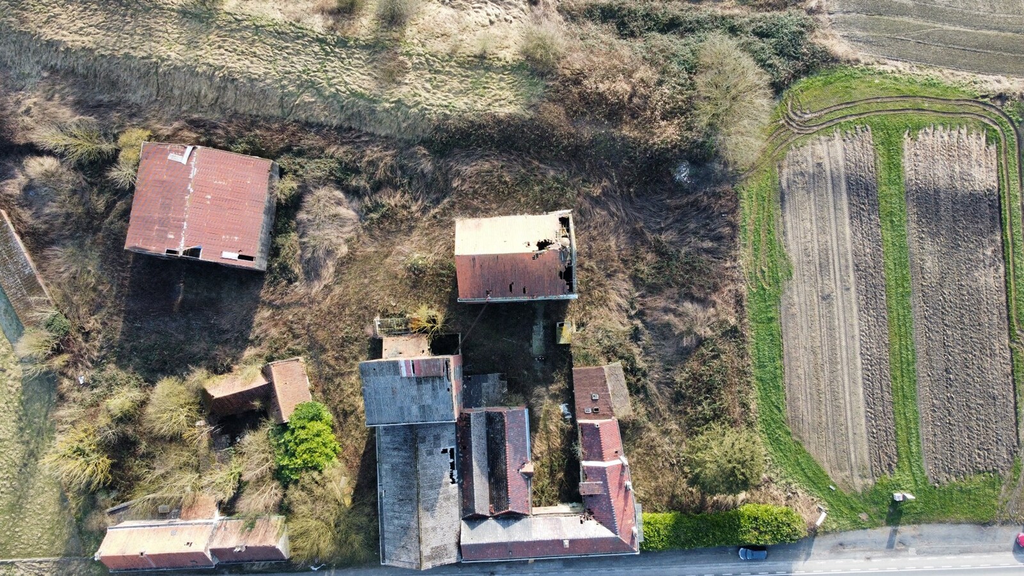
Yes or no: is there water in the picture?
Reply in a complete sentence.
No, there is no water in the image.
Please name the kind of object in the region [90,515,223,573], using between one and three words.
house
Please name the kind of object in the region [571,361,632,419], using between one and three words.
house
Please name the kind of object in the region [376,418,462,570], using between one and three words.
building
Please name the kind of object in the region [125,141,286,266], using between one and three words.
barn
